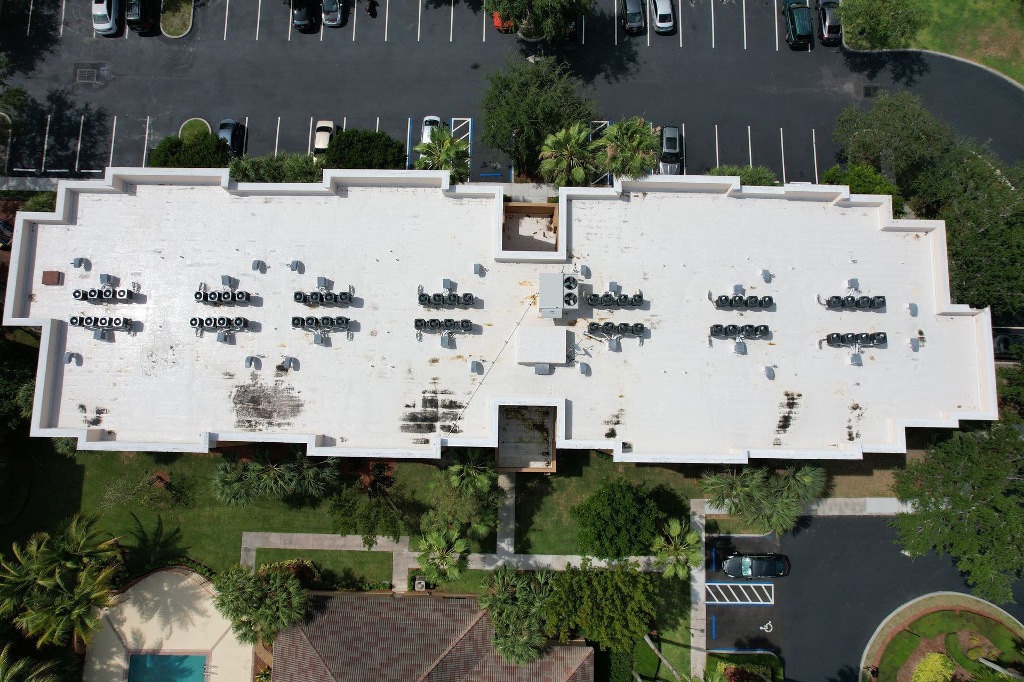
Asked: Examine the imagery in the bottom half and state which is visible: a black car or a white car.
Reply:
black car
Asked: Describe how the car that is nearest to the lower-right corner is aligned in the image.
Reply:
horizontally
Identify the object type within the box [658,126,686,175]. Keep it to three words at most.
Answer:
car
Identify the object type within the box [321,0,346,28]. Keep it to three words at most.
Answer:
car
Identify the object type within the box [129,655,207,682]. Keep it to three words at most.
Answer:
swimming pool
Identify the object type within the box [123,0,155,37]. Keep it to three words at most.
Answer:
truck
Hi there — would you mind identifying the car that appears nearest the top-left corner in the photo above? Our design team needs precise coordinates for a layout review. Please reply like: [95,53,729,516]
[93,0,121,36]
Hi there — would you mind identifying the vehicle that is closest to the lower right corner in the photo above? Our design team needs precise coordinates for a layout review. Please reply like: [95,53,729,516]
[728,552,792,581]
